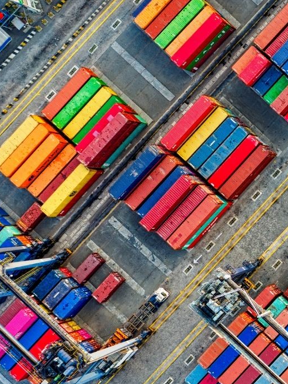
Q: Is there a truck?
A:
Yes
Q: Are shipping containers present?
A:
Yes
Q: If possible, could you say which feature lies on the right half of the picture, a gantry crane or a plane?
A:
gantry crane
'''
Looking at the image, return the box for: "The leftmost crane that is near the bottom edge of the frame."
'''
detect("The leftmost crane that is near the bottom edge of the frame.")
[0,245,157,384]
